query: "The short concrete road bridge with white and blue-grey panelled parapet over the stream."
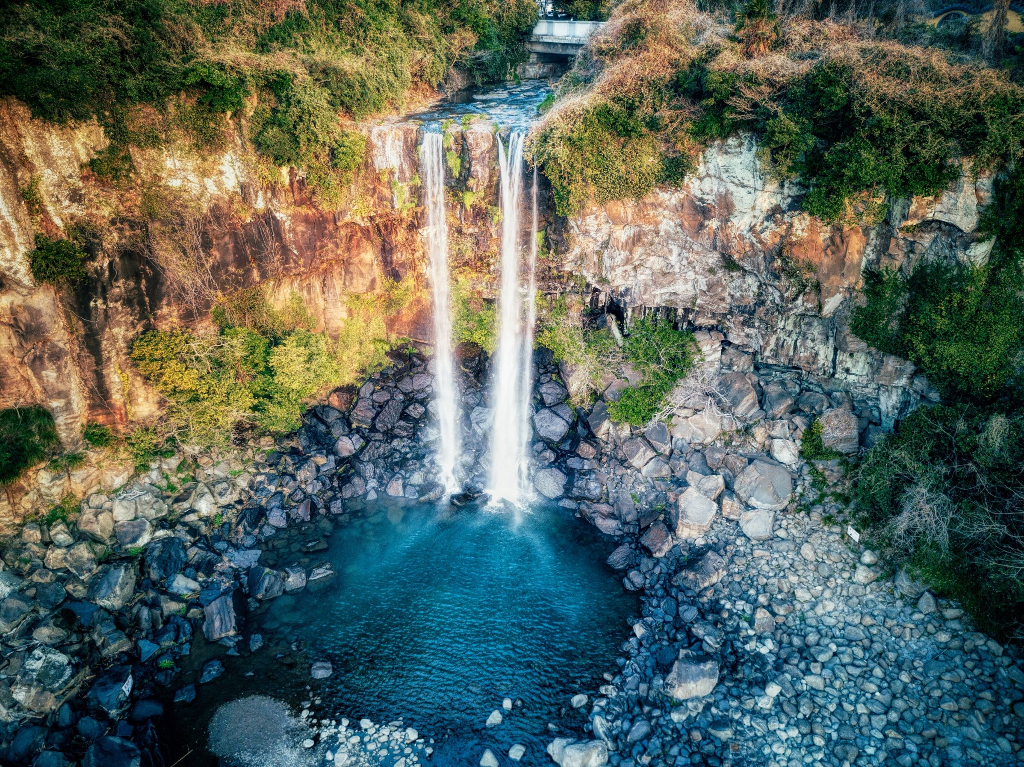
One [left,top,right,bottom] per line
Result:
[521,16,618,78]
